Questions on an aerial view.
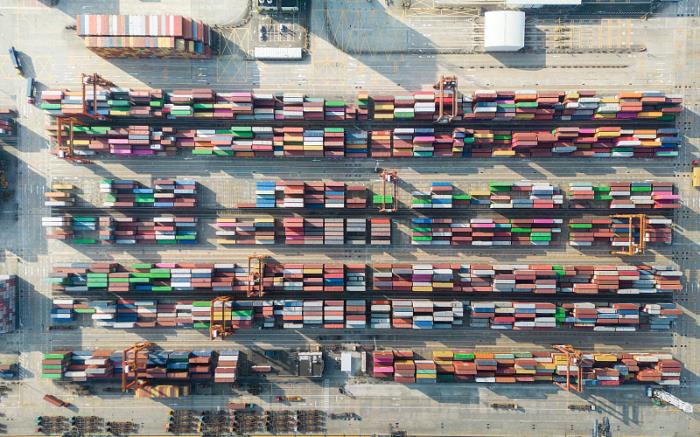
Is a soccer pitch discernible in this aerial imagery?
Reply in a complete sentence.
No, this view has no soccer pitch in it.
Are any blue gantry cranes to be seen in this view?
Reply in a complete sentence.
No, there is no blue gantry crane in the image.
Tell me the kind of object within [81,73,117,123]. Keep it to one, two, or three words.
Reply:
container crane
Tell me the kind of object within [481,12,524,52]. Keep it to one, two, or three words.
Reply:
building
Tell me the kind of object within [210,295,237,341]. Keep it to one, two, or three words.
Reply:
container crane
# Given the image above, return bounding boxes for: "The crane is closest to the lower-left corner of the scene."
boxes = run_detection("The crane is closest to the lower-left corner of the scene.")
[122,340,155,392]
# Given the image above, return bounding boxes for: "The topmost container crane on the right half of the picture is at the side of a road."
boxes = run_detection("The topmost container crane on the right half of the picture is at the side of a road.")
[431,76,456,126]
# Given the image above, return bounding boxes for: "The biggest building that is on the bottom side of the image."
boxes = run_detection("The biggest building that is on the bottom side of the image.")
[298,351,323,375]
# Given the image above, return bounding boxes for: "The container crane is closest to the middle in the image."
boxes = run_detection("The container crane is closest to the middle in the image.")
[378,173,399,213]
